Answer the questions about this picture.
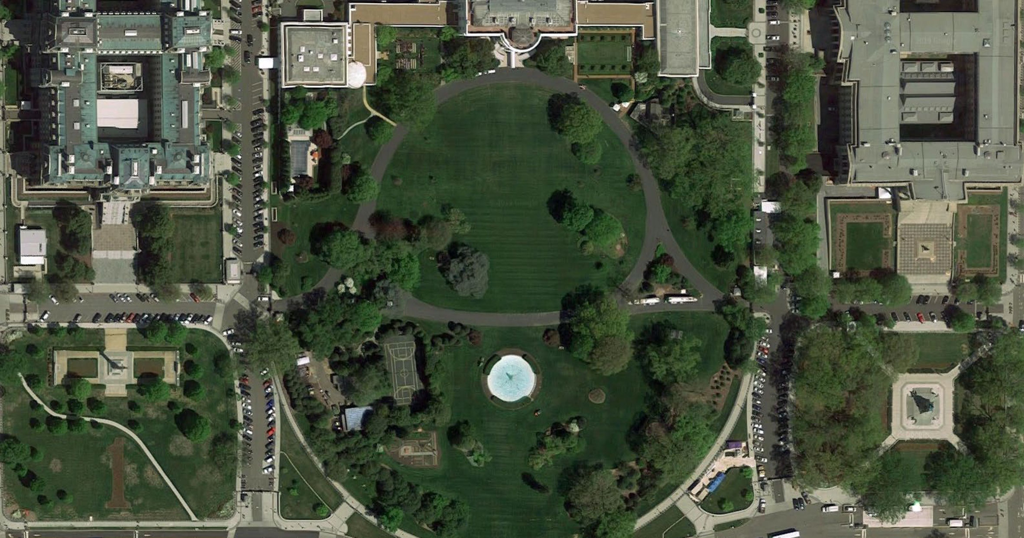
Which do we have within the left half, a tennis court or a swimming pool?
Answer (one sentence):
The feature located within the left half is a swimming pool.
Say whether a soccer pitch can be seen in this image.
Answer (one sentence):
No, there is no soccer pitch in the image.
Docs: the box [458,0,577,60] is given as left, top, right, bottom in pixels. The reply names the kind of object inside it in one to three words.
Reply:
house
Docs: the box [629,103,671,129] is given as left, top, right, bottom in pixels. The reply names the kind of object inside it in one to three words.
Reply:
building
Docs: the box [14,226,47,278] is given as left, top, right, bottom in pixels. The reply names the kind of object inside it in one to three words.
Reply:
building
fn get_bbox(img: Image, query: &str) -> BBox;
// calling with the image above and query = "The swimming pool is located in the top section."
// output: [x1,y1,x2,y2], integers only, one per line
[288,137,320,183]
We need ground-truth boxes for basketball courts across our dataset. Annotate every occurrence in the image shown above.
[382,334,422,405]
